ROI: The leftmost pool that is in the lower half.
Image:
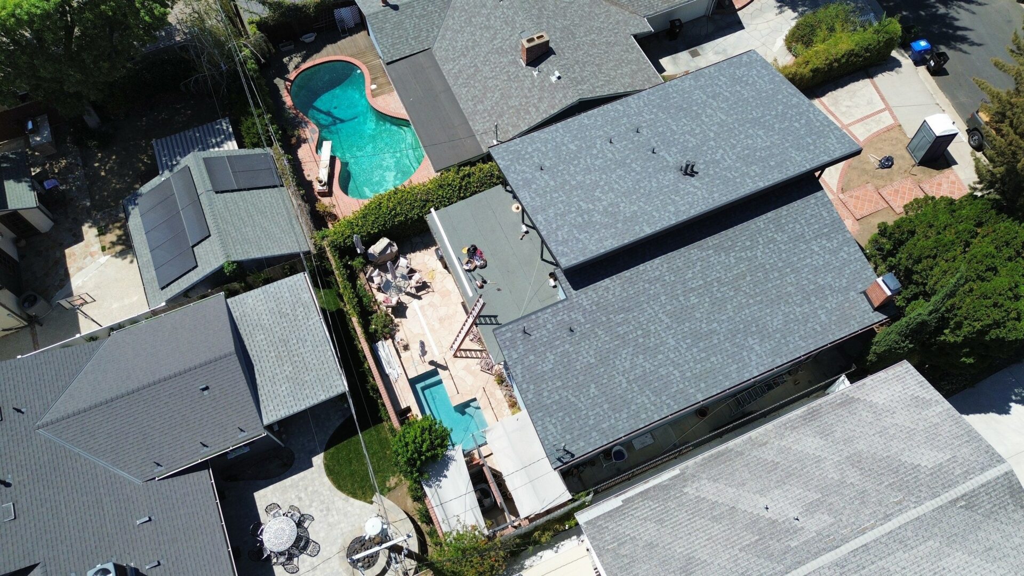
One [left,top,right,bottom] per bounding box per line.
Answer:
[409,369,487,455]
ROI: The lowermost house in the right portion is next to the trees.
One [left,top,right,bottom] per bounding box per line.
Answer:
[574,361,1024,576]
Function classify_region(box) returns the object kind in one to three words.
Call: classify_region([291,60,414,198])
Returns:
swimming pool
